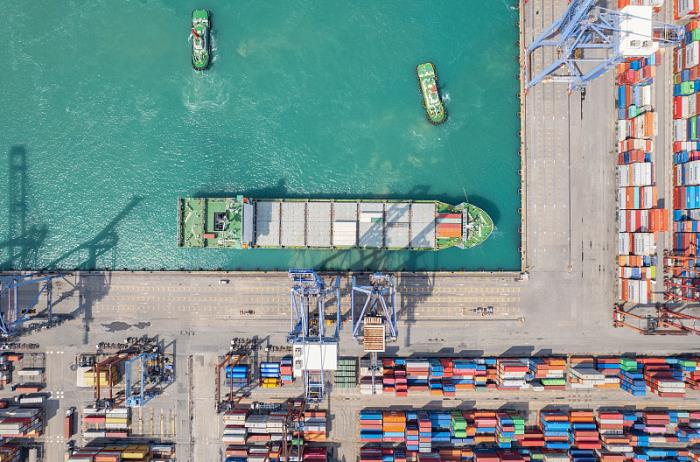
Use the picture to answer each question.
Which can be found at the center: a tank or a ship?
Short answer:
ship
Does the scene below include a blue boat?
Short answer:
No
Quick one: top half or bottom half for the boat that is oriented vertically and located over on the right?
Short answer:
top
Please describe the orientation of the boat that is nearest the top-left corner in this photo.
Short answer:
vertically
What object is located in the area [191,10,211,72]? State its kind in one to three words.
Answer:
boat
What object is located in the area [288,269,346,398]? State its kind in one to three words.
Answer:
container crane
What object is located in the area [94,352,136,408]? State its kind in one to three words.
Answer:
crane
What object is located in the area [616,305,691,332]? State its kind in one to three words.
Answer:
crane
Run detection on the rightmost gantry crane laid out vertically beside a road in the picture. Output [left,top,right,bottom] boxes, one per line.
[347,275,396,393]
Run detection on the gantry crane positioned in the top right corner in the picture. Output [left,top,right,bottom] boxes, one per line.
[525,0,673,97]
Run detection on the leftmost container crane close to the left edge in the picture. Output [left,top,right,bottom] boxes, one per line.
[0,275,68,367]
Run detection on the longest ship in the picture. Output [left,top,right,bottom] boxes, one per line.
[177,184,494,249]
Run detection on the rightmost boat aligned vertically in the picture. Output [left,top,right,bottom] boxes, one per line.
[417,64,446,126]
